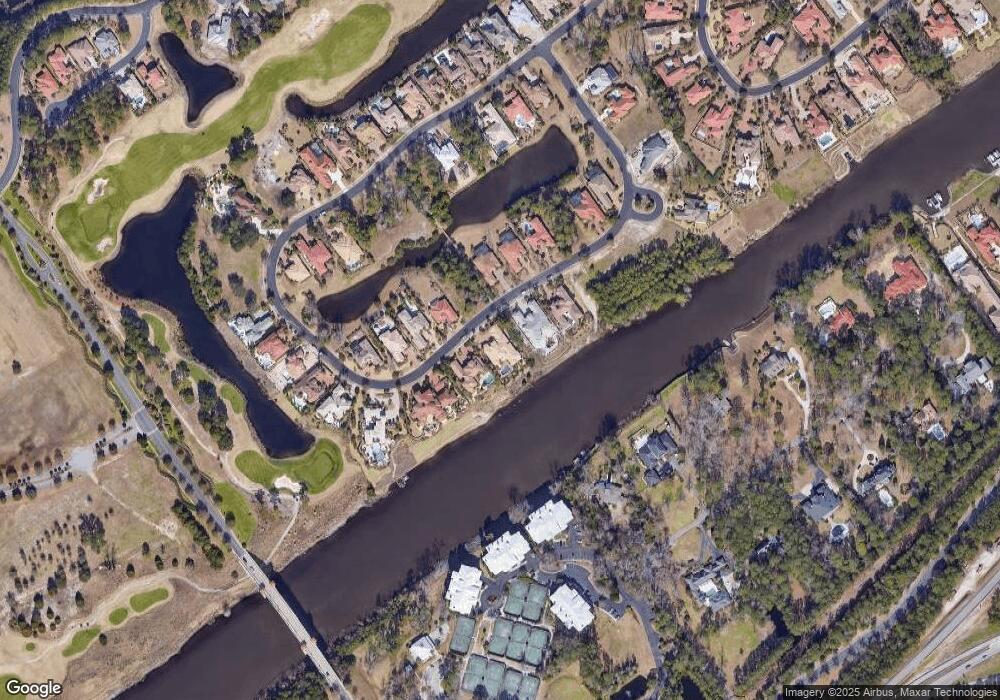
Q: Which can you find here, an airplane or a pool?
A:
pool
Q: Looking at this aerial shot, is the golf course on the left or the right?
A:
left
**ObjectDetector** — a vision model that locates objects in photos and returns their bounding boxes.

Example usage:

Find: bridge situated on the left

[207,504,355,700]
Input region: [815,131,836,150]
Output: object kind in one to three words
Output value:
swimming pool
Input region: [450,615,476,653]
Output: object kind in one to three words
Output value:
tennis court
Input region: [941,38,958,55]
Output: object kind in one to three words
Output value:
swimming pool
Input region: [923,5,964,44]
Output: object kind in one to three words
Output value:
house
